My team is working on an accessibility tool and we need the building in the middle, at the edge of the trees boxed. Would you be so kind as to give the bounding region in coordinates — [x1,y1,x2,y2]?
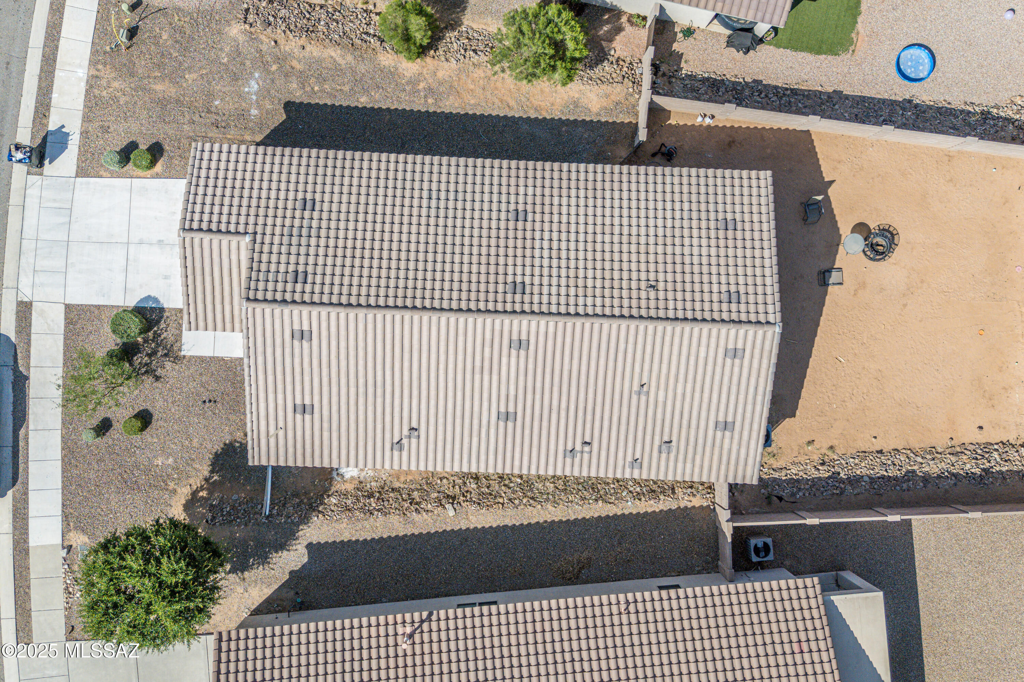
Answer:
[177,141,782,486]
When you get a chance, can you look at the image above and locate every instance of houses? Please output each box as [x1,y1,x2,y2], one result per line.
[213,568,889,682]
[594,0,793,47]
[177,141,782,486]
